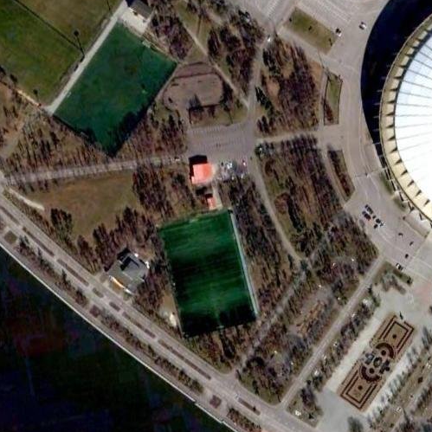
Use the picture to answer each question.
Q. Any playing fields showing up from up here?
Yes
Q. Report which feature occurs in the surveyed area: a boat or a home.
home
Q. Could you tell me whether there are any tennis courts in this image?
No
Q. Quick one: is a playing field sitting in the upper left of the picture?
Yes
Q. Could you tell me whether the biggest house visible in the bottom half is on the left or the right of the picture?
left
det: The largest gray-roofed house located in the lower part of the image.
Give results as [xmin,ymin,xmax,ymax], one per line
[108,253,149,294]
